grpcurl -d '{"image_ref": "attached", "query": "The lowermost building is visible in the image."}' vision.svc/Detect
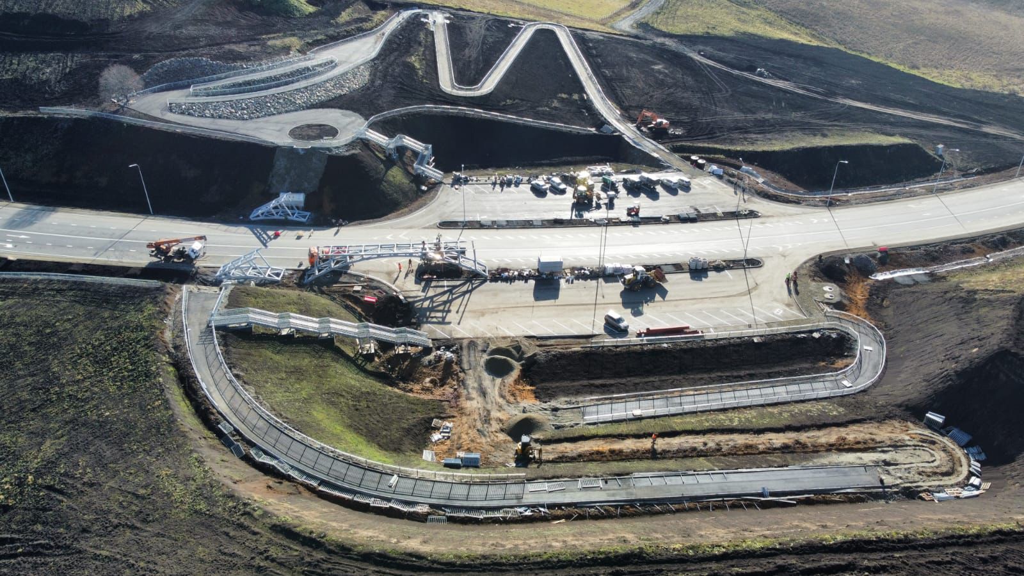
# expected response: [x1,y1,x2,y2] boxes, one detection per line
[537,255,564,276]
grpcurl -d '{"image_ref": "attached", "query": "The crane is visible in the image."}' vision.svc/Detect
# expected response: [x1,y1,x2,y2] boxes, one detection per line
[147,239,211,266]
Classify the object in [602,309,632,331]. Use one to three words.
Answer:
car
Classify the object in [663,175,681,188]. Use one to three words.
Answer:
vehicle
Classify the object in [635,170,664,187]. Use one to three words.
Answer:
vehicle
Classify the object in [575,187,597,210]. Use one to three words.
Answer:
work vehicle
